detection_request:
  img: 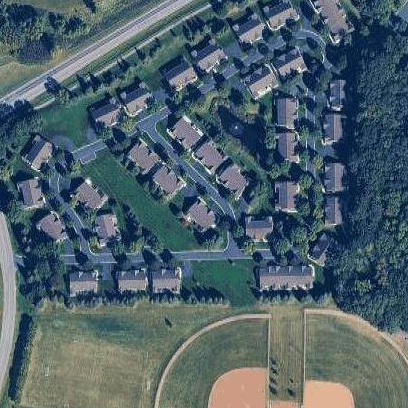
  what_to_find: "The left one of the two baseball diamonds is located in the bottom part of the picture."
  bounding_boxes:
[153,313,270,408]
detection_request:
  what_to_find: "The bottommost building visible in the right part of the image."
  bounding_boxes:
[260,266,315,291]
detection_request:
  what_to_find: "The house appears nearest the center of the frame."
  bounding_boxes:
[186,197,218,228]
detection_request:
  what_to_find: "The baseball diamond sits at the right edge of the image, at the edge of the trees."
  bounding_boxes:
[304,308,408,408]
